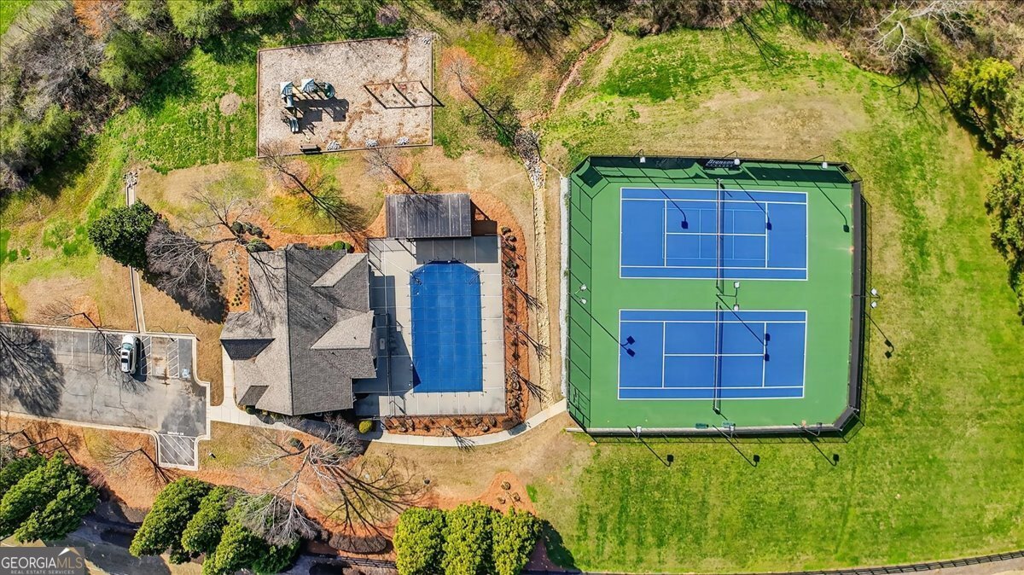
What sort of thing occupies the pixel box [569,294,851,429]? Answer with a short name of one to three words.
tennis court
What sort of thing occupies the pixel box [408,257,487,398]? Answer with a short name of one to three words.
swimming pool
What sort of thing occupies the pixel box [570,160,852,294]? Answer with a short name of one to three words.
tennis court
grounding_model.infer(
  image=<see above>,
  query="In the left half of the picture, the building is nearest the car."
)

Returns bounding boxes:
[221,249,379,414]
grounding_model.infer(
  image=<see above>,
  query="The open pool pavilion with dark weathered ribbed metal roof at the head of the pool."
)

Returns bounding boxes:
[385,193,471,239]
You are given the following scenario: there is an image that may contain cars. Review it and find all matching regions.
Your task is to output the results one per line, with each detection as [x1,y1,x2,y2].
[117,335,140,375]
